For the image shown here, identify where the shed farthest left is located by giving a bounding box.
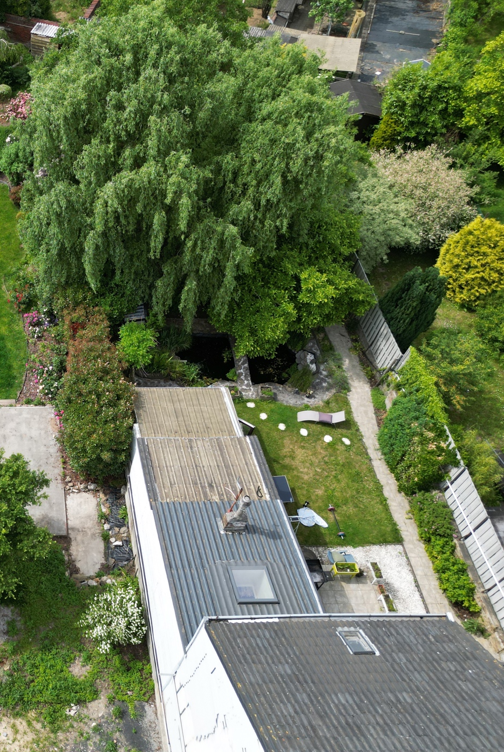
[29,22,59,65]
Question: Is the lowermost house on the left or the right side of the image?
right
